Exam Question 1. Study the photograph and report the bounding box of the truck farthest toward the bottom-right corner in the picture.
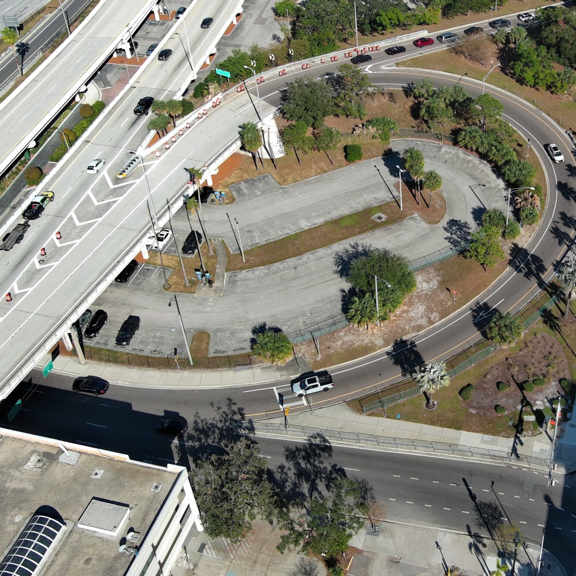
[292,373,334,395]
